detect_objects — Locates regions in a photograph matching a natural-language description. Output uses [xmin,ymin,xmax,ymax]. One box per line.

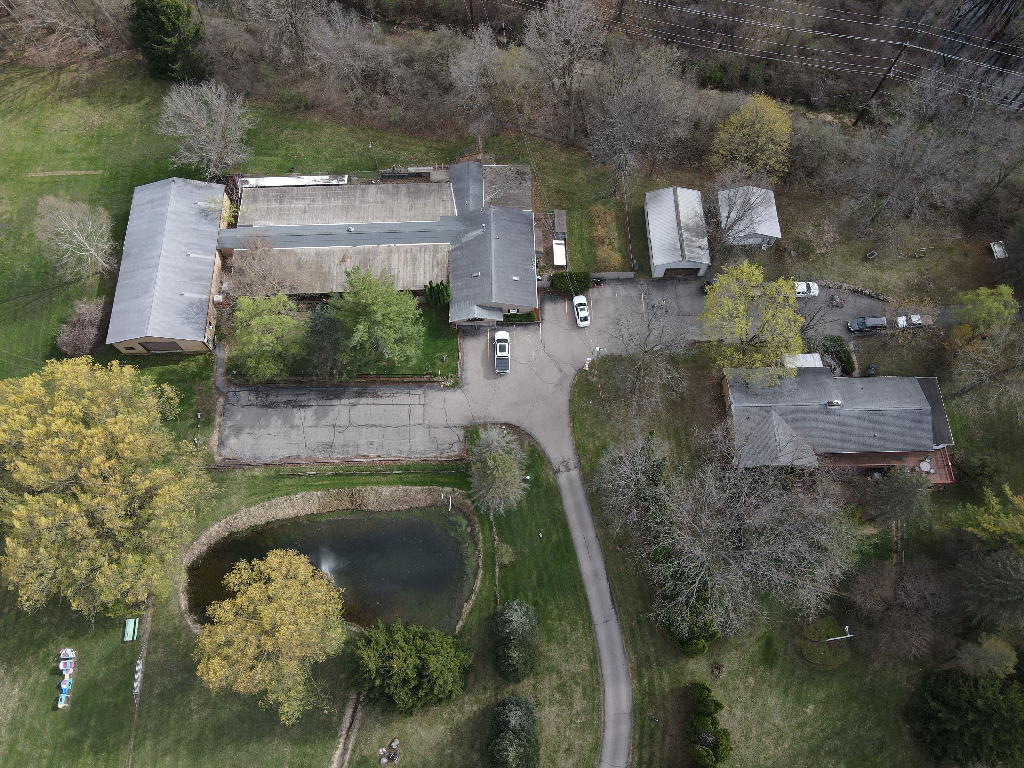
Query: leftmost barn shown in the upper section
[106,177,230,353]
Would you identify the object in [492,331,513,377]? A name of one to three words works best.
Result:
truck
